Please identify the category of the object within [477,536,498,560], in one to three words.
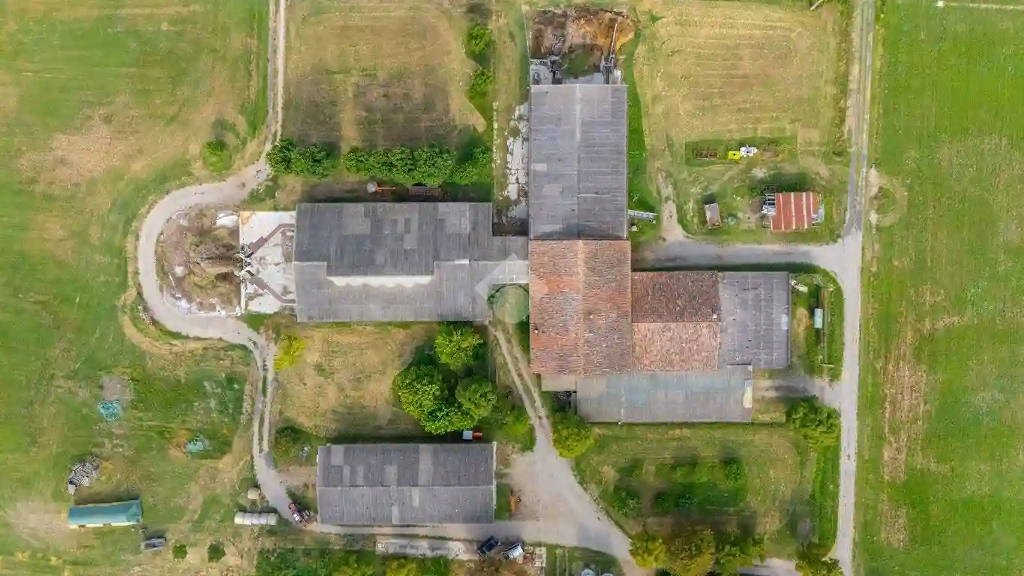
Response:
car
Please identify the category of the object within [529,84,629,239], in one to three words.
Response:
barn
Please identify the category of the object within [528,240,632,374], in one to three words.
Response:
house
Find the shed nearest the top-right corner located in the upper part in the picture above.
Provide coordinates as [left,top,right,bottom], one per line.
[760,186,823,232]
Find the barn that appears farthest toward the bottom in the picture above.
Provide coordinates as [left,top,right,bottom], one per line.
[316,440,497,525]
